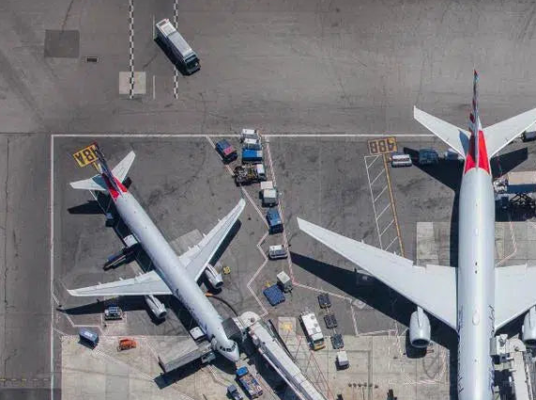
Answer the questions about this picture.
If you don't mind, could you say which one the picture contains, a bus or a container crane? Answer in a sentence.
Of the two, only a bus appears.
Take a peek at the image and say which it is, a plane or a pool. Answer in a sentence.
This aerial view contains a plane.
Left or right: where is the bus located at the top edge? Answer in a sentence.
The bus located at the top edge sits on the left side.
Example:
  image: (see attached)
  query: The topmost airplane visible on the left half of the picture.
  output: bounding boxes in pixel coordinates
[63,147,244,360]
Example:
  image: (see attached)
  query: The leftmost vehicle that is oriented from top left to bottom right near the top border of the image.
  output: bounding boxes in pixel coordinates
[155,18,199,78]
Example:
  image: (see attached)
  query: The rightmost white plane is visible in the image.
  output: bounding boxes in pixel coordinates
[296,74,536,400]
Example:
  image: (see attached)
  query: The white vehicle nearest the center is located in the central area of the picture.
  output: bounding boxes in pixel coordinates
[262,176,276,205]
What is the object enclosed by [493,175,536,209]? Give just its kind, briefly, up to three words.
truck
